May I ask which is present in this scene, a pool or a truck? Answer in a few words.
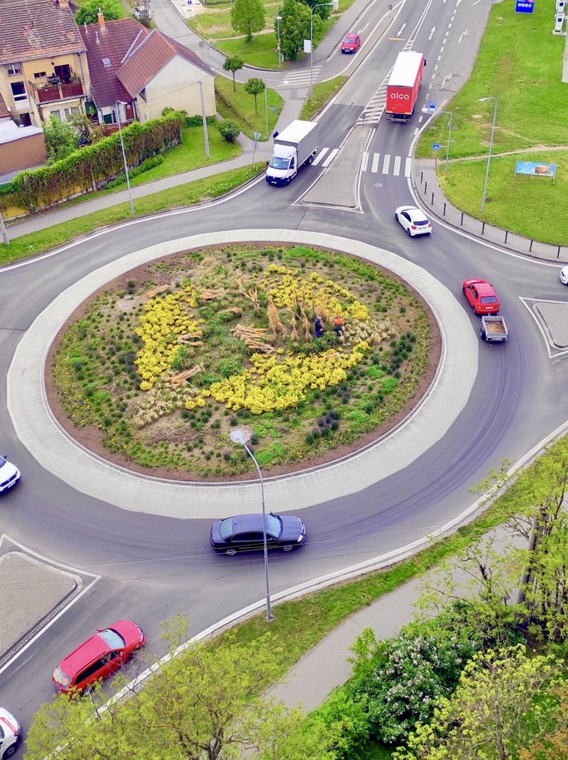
truck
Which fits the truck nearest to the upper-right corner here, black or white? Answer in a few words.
white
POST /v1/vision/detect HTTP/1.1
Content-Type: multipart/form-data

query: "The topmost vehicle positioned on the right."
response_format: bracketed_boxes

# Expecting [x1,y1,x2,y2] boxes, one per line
[342,30,360,52]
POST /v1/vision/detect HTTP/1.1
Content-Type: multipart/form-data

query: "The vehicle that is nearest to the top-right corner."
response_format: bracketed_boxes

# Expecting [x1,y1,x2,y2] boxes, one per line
[386,52,427,122]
